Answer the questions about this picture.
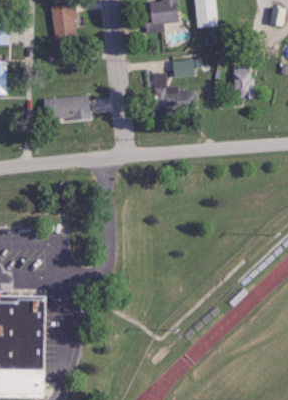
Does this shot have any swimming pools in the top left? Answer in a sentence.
No, I can find no swimming pool in the top left.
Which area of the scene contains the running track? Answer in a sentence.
The running track appears toward the bottom right of the photo.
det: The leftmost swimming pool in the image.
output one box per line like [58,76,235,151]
[164,22,190,48]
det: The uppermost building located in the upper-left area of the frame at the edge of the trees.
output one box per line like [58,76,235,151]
[50,7,80,38]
